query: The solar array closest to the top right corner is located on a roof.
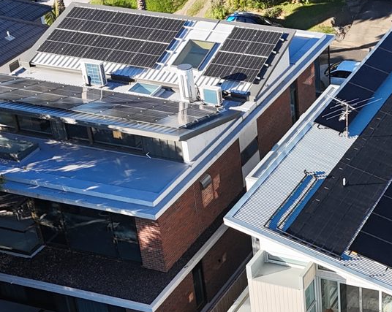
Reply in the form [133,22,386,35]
[318,37,392,134]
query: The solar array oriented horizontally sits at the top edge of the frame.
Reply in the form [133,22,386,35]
[37,6,187,67]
